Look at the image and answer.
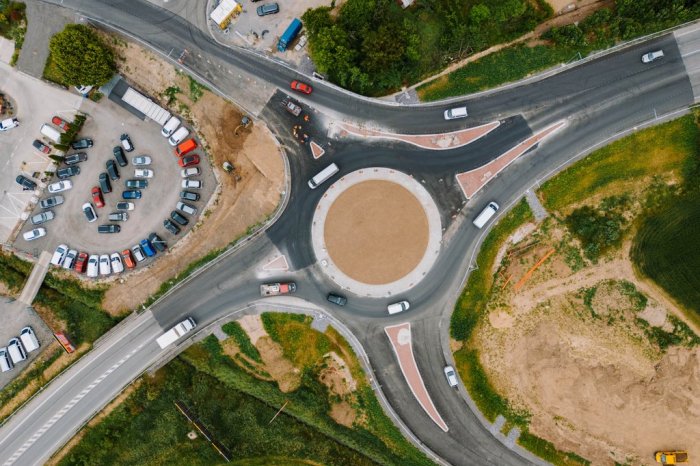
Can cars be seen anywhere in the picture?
Yes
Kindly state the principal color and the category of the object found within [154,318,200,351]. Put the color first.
white truck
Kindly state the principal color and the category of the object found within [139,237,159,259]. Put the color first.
blue vehicle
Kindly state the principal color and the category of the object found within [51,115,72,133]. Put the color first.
red car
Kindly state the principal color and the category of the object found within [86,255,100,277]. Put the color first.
white vehicle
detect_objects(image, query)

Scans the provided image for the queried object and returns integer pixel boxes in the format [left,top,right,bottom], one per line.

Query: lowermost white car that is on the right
[443,364,461,389]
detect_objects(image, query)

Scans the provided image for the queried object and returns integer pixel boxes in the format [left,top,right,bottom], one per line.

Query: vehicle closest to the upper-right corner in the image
[640,49,666,64]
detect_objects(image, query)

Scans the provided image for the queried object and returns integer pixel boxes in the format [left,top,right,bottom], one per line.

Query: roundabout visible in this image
[258,90,533,297]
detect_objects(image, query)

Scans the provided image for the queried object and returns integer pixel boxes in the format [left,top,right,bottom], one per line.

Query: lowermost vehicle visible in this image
[652,448,690,465]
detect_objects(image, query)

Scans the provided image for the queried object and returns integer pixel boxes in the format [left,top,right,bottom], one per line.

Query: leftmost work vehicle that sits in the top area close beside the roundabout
[232,115,251,137]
